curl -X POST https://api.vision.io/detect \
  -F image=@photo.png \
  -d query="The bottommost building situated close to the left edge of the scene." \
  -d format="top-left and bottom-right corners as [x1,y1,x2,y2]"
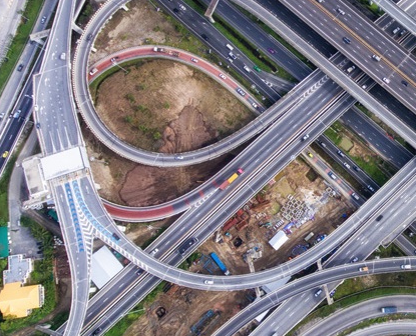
[0,281,51,311]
